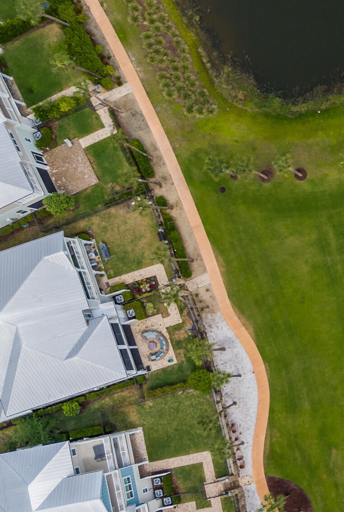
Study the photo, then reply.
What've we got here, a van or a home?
home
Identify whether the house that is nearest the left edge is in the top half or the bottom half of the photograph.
top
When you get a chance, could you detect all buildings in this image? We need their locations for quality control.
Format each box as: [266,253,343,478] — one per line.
[0,231,150,416]
[0,81,60,220]
[0,429,178,512]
